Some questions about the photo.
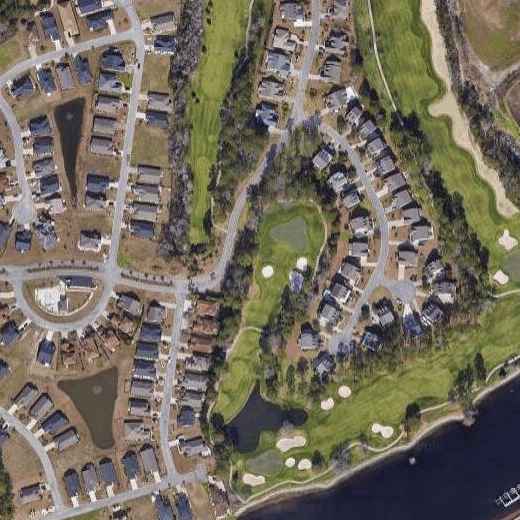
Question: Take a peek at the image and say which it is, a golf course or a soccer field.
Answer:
golf course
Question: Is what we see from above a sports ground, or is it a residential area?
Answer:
residential area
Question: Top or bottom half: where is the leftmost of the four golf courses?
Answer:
top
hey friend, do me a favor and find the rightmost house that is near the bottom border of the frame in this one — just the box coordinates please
[211,485,232,519]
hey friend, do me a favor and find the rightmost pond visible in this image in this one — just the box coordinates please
[226,380,307,453]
